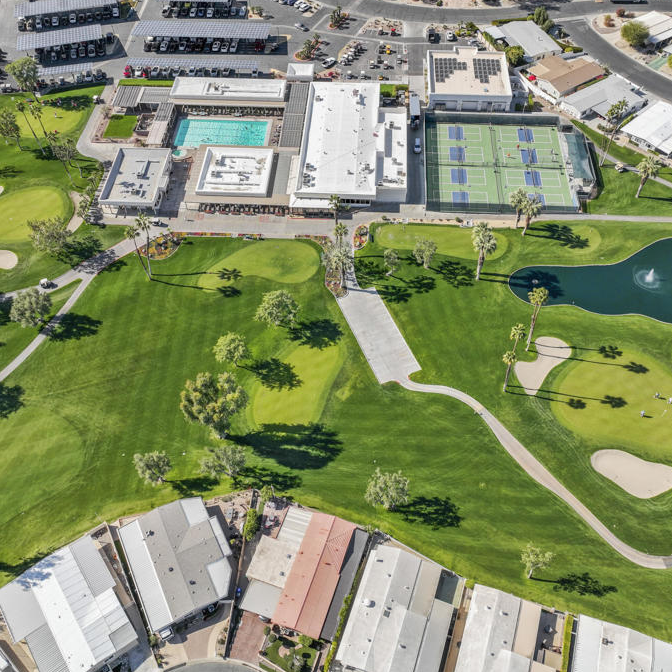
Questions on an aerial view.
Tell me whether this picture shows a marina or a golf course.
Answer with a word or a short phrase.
golf course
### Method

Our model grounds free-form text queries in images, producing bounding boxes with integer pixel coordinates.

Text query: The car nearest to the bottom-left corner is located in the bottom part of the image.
[158,625,179,649]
